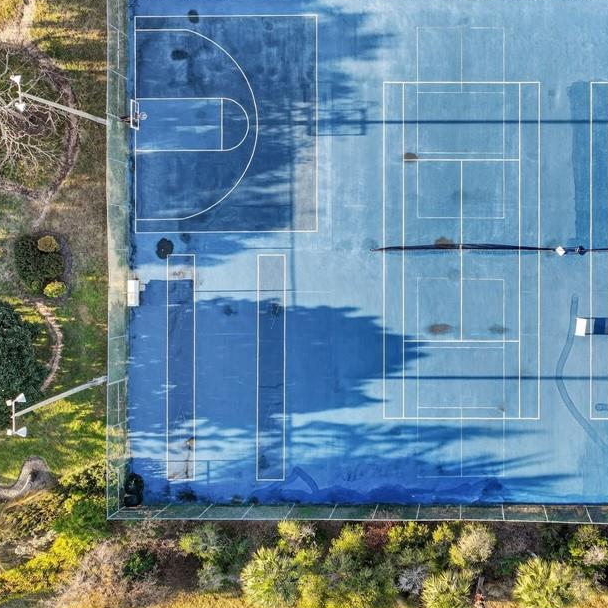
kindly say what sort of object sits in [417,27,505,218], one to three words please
sports court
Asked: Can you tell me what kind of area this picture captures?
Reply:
sports ground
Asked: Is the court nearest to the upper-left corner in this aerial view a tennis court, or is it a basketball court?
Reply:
basketball court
